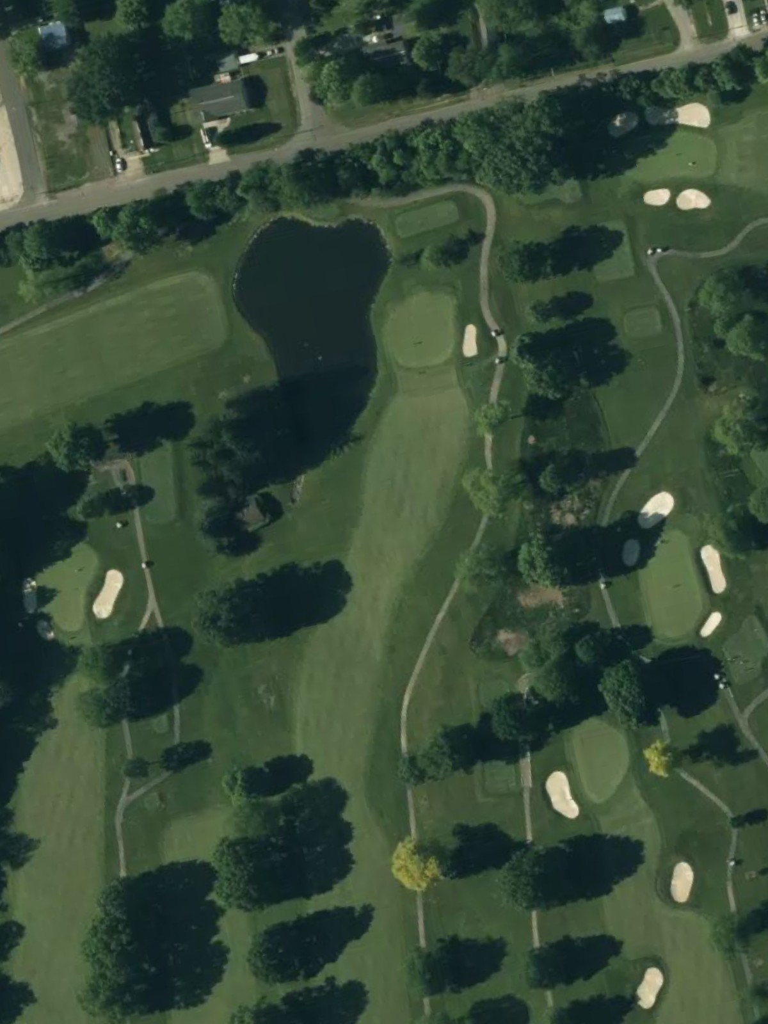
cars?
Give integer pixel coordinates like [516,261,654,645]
[267,48,279,55]
[760,10,766,22]
[752,14,758,26]
[116,158,122,170]
[728,1,735,14]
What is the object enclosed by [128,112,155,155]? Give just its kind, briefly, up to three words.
house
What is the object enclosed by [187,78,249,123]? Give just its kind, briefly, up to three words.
house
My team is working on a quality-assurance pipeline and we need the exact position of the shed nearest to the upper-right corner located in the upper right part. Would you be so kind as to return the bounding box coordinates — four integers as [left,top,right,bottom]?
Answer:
[604,5,626,24]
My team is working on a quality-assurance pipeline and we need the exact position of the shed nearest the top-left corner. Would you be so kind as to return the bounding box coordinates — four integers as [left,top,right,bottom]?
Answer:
[39,25,67,50]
